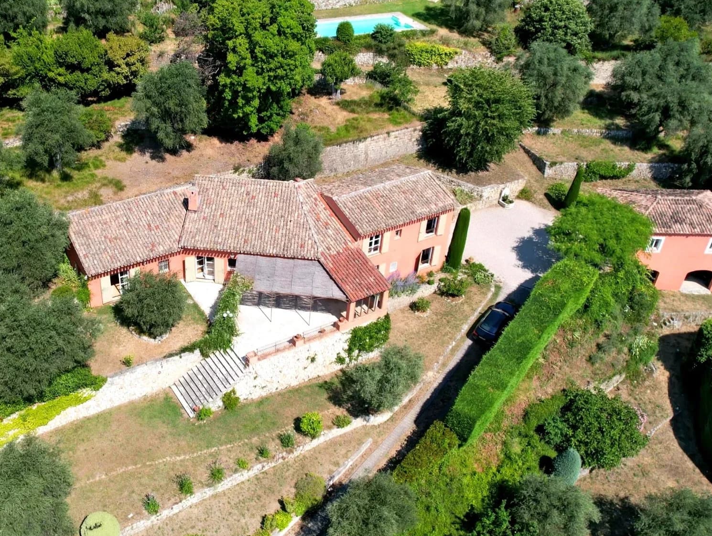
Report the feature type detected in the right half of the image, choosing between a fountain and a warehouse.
fountain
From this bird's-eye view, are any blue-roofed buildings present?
No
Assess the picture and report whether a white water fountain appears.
Yes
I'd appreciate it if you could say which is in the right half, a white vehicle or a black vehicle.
black vehicle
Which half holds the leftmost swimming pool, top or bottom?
top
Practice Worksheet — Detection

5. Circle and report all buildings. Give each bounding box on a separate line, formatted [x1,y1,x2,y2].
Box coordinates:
[593,186,712,301]
[63,161,455,322]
